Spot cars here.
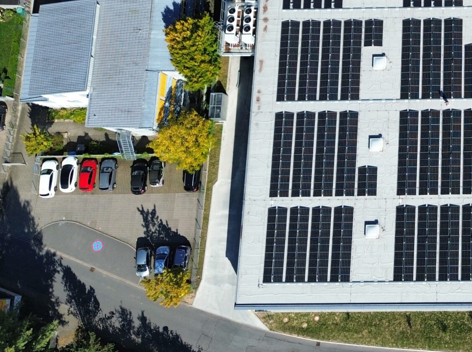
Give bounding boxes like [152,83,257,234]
[130,159,149,193]
[149,158,167,186]
[78,159,102,192]
[58,157,83,193]
[183,162,203,196]
[171,241,193,274]
[39,161,62,196]
[151,242,174,277]
[133,245,155,279]
[0,102,12,132]
[98,158,120,192]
